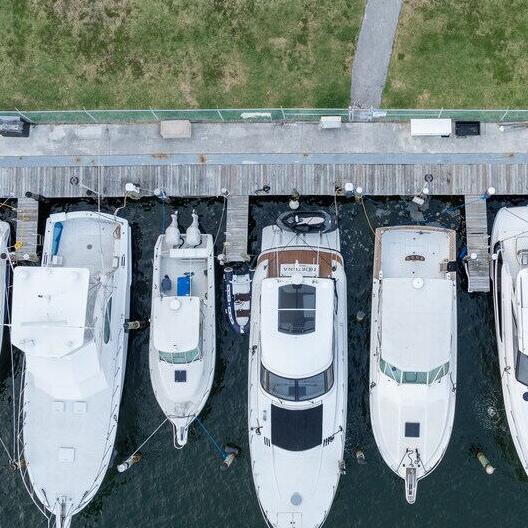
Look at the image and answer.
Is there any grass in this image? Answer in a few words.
Yes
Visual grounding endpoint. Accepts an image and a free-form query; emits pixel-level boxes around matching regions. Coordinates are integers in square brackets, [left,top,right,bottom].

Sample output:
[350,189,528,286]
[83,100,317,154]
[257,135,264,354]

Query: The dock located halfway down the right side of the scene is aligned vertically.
[464,195,490,292]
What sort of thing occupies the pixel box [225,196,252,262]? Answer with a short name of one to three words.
pier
